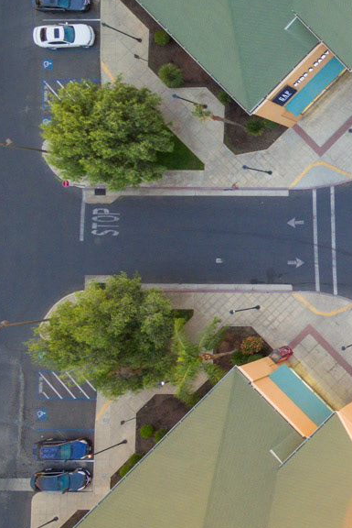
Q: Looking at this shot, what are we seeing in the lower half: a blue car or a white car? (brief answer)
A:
blue car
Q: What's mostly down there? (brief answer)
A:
paved ground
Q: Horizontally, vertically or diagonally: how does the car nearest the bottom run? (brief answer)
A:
horizontally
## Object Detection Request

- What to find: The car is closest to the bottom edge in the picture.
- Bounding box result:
[34,465,96,494]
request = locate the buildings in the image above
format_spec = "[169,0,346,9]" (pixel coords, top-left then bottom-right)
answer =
[71,354,352,528]
[138,0,352,128]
